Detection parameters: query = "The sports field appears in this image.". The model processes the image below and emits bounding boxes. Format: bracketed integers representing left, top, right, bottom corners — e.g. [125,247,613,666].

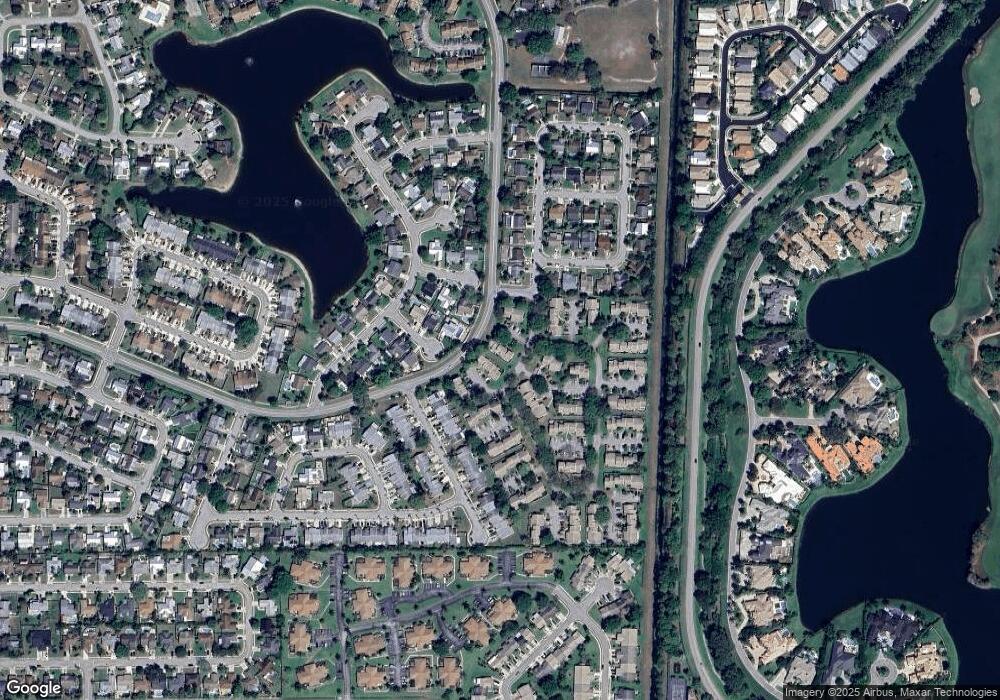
[575,0,658,80]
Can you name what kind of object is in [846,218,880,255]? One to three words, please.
house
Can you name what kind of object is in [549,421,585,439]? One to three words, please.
building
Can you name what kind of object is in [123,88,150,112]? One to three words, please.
house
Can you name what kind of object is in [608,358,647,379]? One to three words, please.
building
